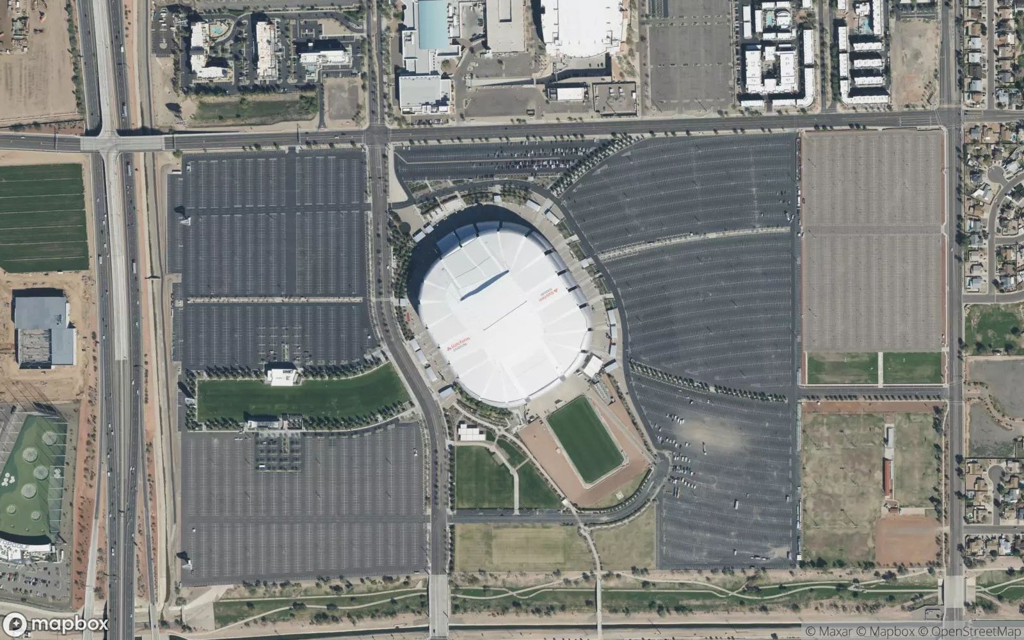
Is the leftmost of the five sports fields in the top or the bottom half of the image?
bottom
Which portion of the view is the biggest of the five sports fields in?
bottom right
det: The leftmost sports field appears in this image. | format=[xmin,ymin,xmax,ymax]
[547,396,623,483]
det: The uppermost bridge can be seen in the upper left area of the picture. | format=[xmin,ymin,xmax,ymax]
[80,136,165,152]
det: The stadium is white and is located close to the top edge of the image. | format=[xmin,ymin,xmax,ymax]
[542,0,626,57]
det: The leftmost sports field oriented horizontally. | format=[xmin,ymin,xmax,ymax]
[808,352,878,384]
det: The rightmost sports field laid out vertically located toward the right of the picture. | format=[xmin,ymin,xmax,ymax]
[895,413,936,508]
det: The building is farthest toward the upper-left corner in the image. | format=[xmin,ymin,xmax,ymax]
[191,22,230,79]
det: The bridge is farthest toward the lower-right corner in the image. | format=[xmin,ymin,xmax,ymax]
[944,575,965,608]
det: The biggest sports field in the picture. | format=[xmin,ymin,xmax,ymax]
[803,413,884,563]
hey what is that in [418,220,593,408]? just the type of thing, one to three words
stadium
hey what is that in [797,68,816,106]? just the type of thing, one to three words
building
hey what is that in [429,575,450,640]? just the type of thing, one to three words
bridge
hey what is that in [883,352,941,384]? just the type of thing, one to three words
sports field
